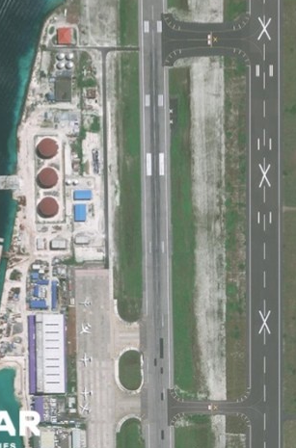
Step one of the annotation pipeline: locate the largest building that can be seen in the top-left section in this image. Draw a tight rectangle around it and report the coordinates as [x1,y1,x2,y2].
[54,79,72,103]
